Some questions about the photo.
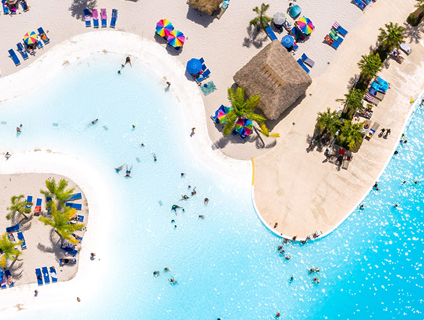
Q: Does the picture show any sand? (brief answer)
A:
Yes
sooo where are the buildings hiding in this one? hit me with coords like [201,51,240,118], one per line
[187,0,224,17]
[232,37,311,123]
